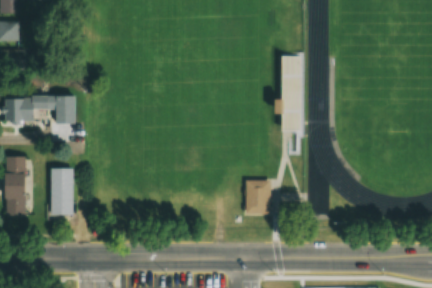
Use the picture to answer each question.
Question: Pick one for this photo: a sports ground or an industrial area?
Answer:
sports ground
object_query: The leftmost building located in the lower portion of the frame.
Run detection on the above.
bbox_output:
[4,157,25,216]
